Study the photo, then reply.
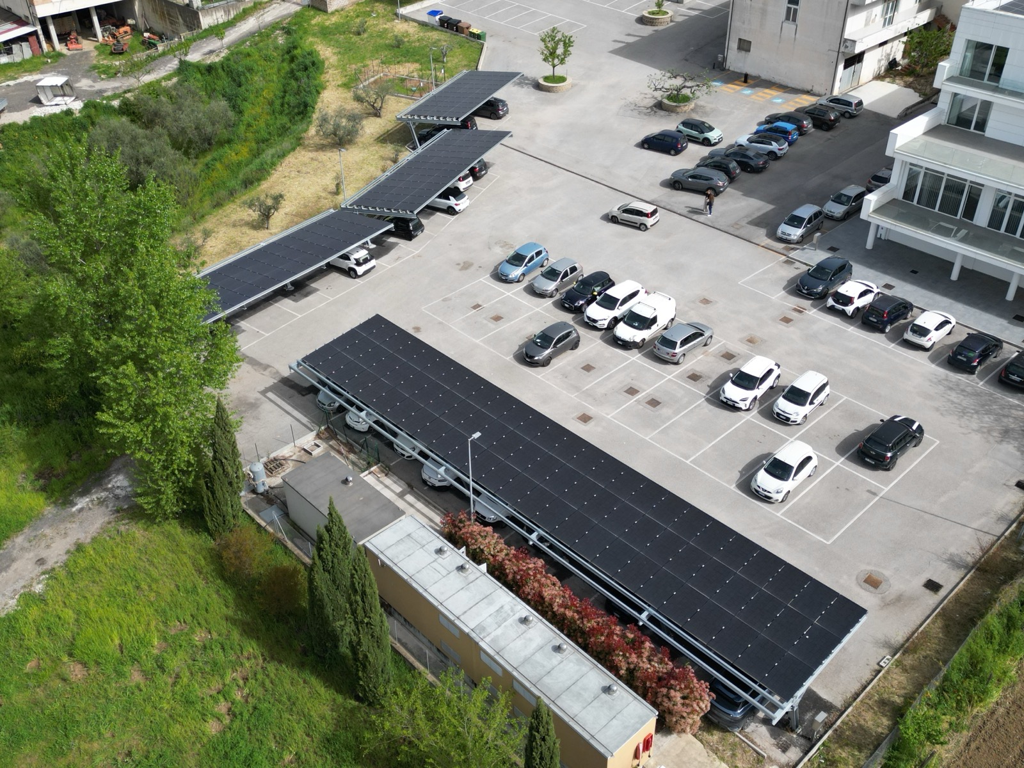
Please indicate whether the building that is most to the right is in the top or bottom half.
top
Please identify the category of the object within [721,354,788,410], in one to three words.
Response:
car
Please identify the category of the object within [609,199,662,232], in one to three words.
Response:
car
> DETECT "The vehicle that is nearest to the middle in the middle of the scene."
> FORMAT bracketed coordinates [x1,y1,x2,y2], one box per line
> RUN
[520,318,582,367]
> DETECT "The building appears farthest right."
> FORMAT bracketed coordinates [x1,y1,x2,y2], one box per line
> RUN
[863,0,1024,300]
